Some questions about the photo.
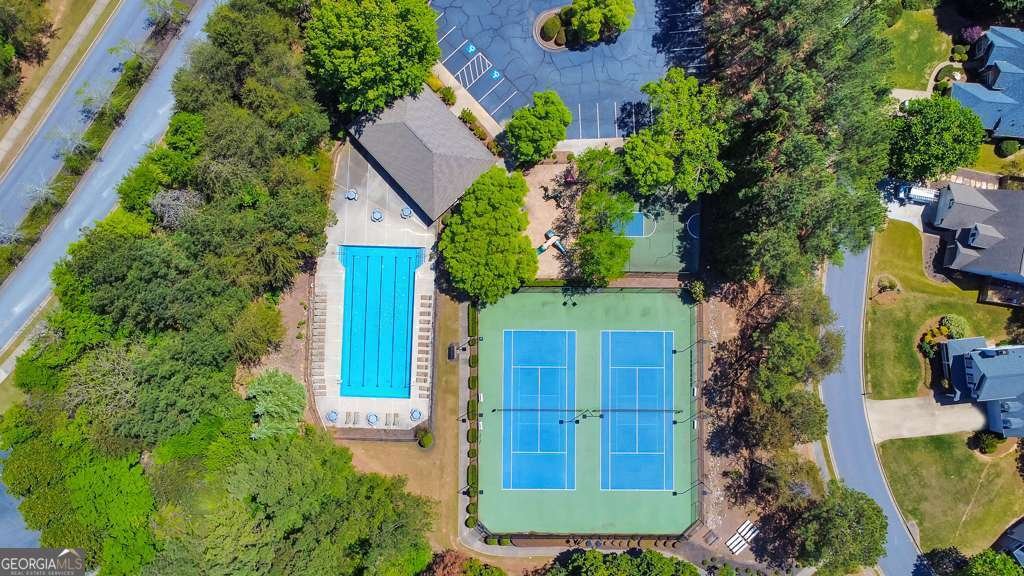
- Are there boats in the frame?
No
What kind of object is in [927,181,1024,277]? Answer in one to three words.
house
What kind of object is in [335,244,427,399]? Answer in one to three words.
swimming pool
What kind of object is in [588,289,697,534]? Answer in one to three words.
tennis court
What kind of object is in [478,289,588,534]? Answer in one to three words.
tennis court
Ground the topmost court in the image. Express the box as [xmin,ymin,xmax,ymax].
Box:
[612,190,701,272]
